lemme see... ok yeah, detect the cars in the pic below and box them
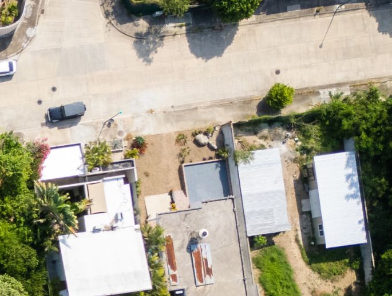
[47,101,88,124]
[0,60,17,77]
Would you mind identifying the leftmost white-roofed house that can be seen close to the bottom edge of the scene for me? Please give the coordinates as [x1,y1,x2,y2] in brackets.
[54,179,152,296]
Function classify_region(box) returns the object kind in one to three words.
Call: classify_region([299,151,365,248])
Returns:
house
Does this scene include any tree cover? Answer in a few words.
Yes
